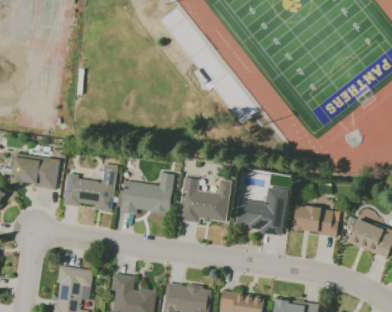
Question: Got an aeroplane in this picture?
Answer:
No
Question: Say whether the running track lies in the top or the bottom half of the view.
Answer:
top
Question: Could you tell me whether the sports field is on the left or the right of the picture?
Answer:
right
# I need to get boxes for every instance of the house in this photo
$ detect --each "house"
[116,173,176,216]
[164,283,212,312]
[13,157,61,188]
[292,206,340,236]
[108,274,156,312]
[181,176,232,224]
[63,164,118,212]
[54,266,92,312]
[272,298,320,312]
[240,188,288,234]
[348,218,392,259]
[218,291,264,312]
